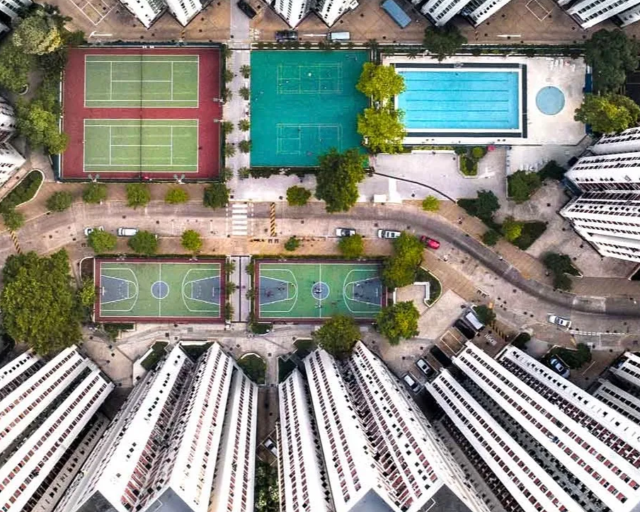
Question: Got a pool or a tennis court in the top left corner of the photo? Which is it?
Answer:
tennis court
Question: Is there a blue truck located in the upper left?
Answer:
No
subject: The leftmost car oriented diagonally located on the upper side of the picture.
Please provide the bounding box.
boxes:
[236,0,257,18]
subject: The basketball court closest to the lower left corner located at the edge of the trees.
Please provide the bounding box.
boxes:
[93,258,227,322]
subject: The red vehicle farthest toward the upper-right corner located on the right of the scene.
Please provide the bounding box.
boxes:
[423,236,440,249]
